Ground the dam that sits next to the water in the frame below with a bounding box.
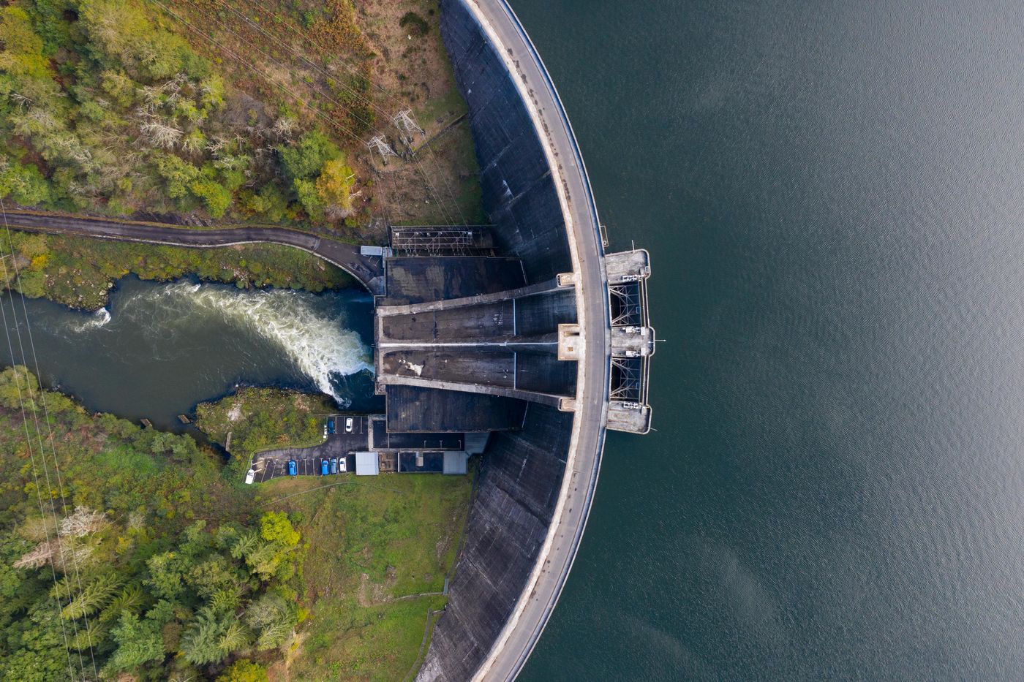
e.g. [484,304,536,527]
[418,0,614,682]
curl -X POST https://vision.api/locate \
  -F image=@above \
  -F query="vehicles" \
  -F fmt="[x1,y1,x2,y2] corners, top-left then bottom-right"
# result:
[245,469,254,484]
[328,419,334,434]
[339,458,346,472]
[289,461,296,475]
[346,418,353,432]
[330,459,337,473]
[322,460,329,474]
